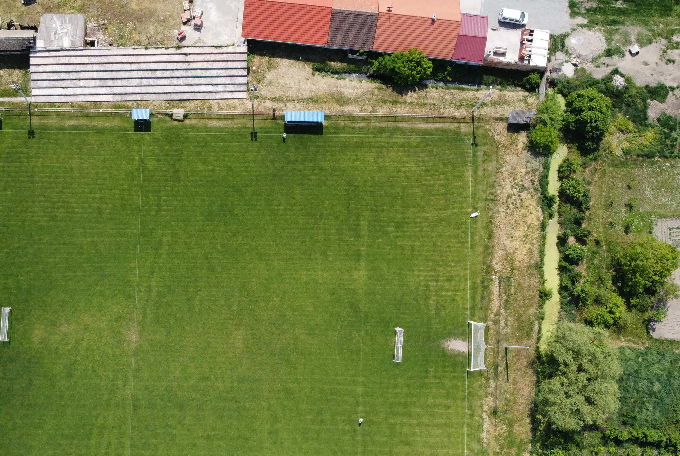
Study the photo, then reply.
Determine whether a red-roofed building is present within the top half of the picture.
Yes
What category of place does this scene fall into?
sports ground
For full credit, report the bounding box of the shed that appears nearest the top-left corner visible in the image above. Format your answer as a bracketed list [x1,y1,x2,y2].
[0,30,37,54]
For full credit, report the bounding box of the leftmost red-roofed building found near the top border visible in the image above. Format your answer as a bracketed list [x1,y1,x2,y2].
[242,0,332,52]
